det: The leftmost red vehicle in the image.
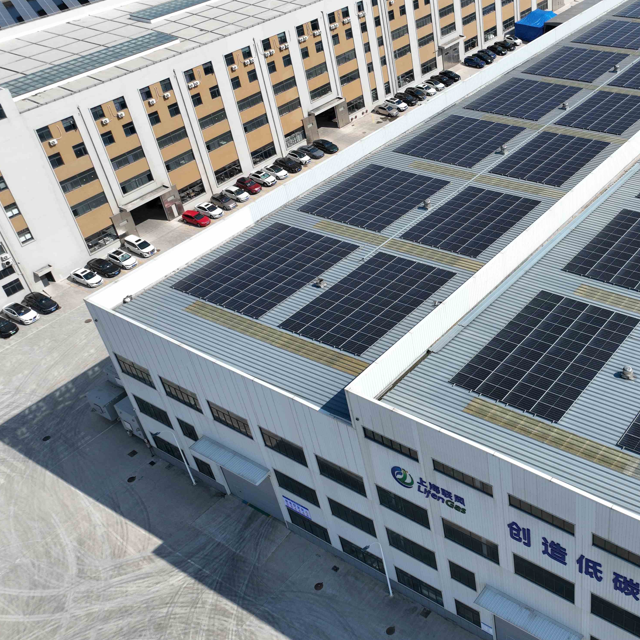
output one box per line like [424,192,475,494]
[183,210,211,229]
